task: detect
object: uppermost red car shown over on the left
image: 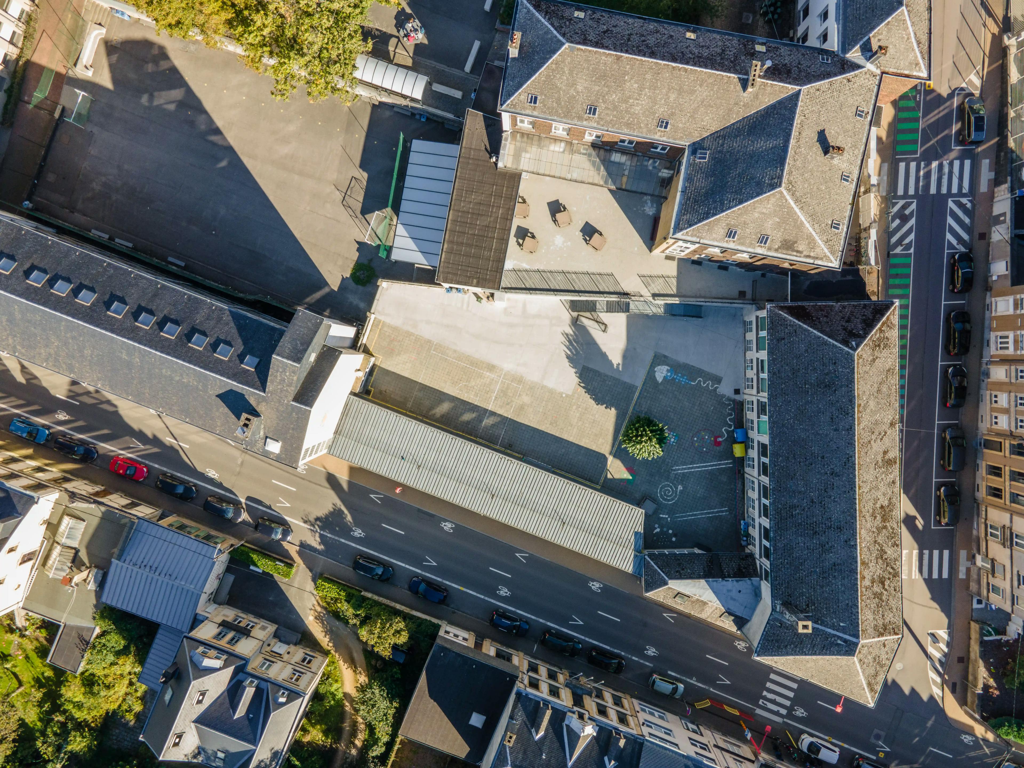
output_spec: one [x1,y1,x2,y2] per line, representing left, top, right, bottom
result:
[106,453,153,483]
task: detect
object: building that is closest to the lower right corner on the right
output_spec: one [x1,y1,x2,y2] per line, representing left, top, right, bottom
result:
[970,501,1024,617]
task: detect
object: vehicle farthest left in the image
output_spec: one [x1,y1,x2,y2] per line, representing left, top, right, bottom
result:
[5,414,56,446]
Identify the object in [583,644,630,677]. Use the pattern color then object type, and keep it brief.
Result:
black car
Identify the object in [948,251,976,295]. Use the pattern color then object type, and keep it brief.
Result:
black car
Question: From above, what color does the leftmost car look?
blue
